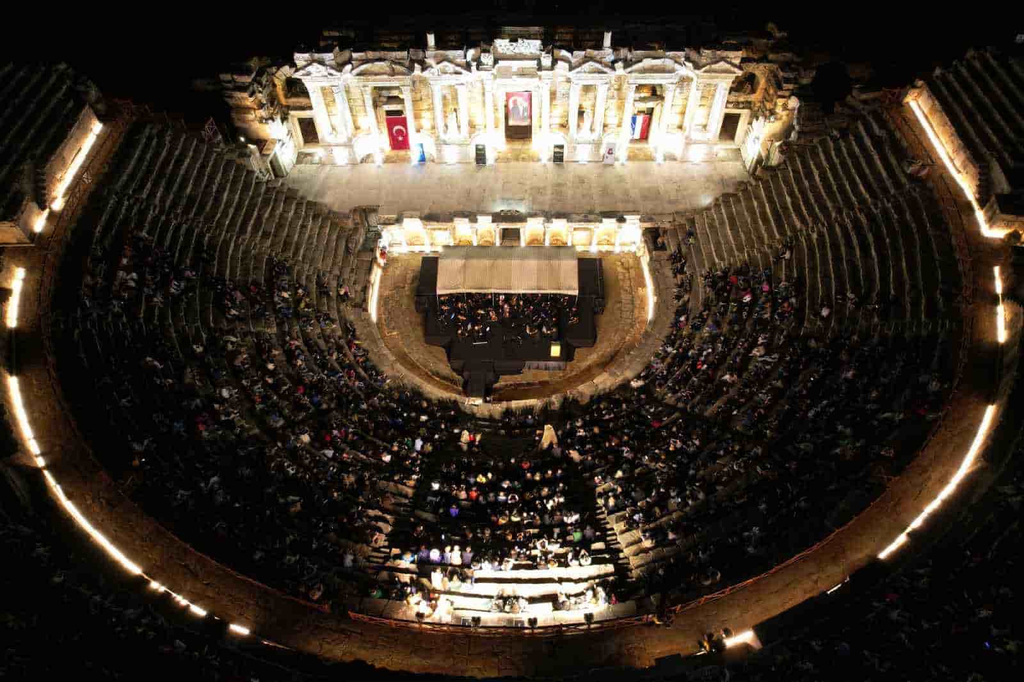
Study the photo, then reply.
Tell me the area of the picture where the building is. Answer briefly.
top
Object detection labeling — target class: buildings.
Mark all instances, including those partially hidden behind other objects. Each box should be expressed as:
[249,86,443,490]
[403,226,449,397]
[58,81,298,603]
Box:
[279,15,757,161]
